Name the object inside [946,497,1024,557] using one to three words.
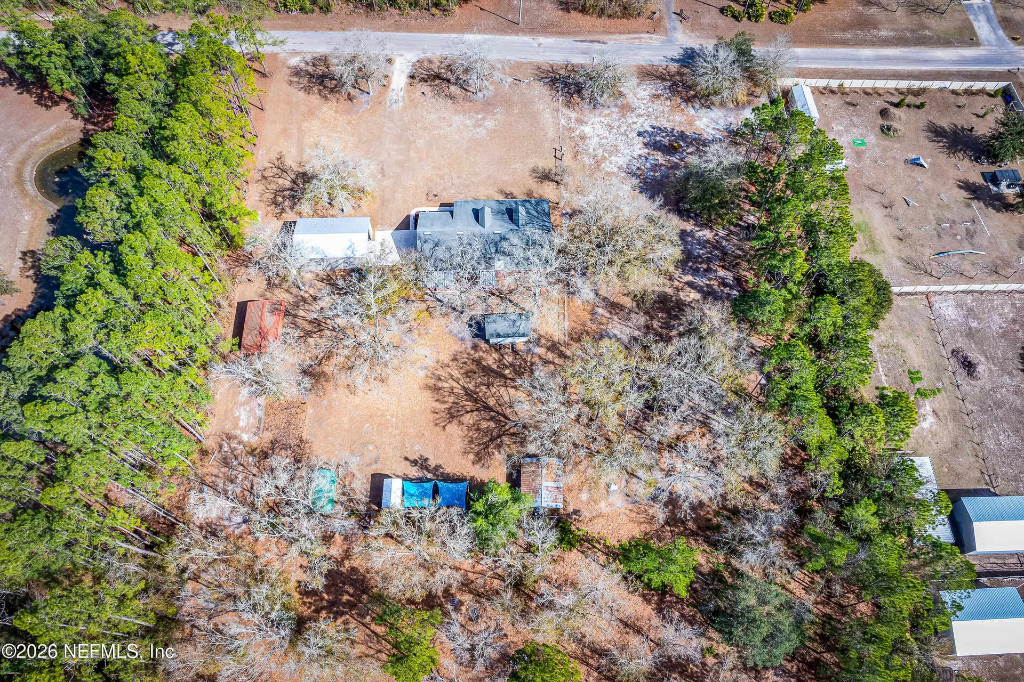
barn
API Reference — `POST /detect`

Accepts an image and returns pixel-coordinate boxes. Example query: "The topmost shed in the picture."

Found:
[787,82,818,130]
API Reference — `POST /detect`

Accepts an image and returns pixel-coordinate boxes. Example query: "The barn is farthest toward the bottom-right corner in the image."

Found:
[934,589,1024,658]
